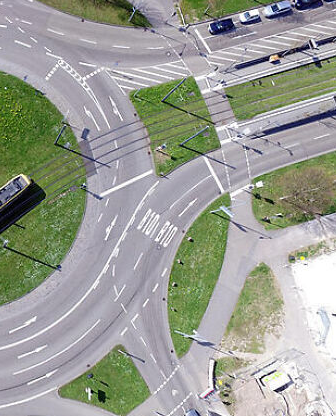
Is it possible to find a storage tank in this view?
No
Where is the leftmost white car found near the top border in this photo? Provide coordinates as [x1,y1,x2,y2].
[236,8,263,26]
